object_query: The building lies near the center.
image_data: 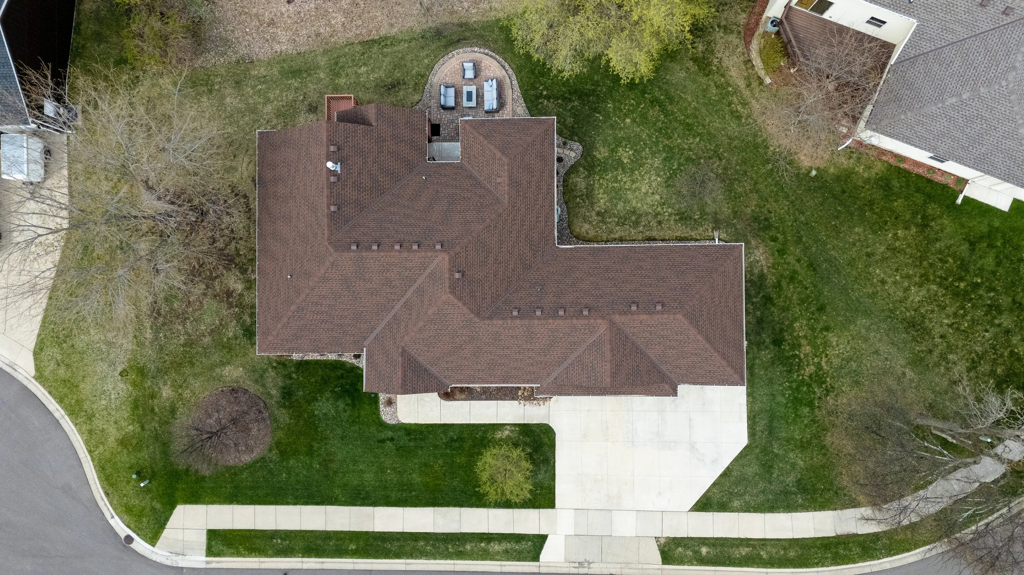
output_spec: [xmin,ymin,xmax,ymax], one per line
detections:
[255,106,747,399]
